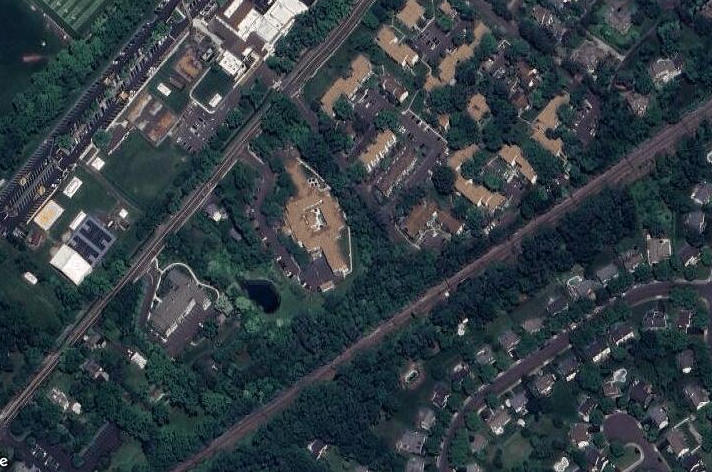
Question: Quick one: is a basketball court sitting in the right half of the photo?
No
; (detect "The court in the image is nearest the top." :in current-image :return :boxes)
[34,199,64,230]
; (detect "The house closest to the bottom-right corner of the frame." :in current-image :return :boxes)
[680,454,705,472]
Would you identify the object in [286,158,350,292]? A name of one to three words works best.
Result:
house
